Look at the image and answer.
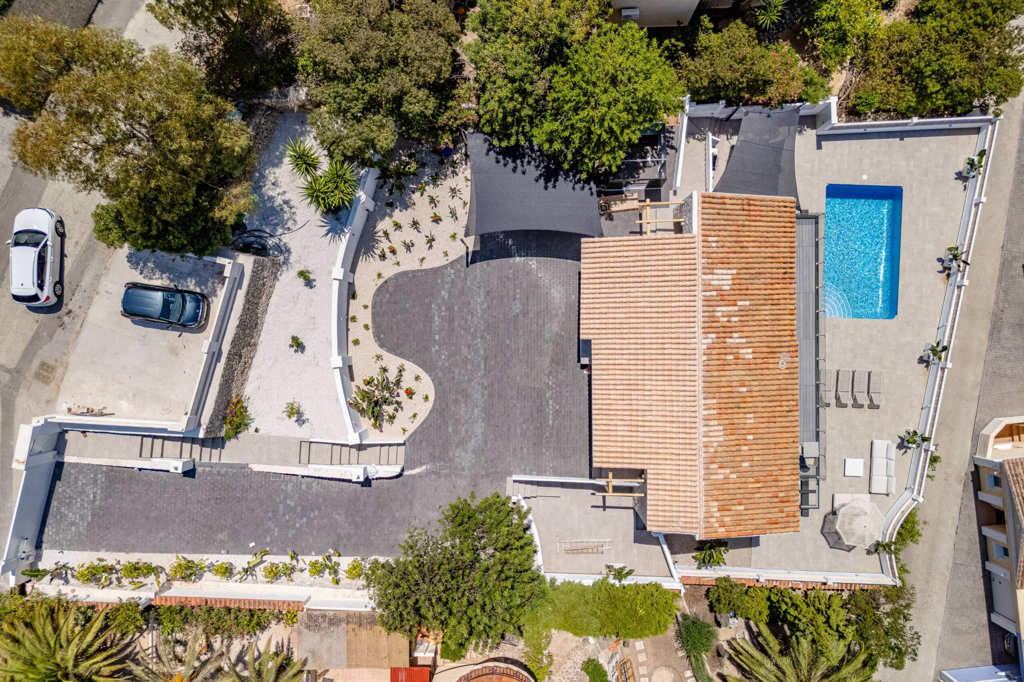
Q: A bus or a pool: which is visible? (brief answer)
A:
pool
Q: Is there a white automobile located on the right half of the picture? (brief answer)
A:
No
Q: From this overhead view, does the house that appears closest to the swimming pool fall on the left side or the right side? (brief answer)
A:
right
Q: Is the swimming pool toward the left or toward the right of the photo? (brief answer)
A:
right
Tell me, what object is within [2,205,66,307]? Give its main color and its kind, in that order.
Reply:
white car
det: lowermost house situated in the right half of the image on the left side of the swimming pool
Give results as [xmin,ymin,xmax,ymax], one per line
[578,191,818,541]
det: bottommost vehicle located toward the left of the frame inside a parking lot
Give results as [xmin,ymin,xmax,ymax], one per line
[120,277,216,328]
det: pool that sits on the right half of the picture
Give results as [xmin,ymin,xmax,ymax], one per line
[822,184,903,319]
